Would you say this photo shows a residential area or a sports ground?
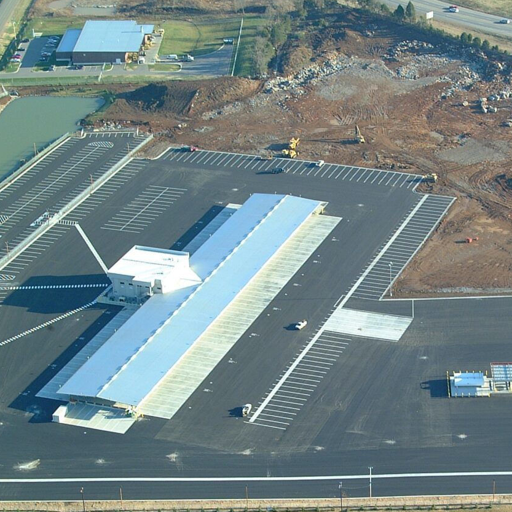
sports ground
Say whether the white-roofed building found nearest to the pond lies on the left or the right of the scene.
left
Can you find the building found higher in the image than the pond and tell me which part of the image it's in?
top left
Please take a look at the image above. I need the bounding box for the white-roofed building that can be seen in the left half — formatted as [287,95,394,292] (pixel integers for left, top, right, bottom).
[107,242,202,301]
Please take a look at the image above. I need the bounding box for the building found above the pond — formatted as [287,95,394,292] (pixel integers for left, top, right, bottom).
[57,20,155,62]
